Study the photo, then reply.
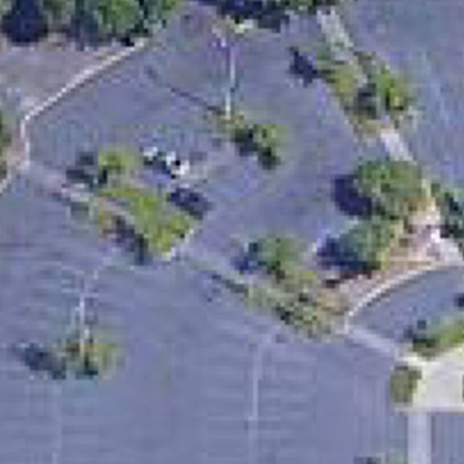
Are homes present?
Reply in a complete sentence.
No, I can't see a single home in this photo.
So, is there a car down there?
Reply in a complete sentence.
Yes, there's a car down there.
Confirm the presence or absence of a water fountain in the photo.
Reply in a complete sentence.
No, this view has no water fountain in it.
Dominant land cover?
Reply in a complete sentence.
The scene is dominated by paved ground.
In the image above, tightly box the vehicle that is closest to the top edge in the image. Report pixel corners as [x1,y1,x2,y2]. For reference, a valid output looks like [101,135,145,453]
[140,145,194,180]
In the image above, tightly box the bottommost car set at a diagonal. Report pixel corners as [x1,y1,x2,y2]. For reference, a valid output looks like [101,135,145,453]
[162,186,213,222]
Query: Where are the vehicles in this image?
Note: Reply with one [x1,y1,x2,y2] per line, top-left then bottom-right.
[140,145,194,180]
[162,186,213,222]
